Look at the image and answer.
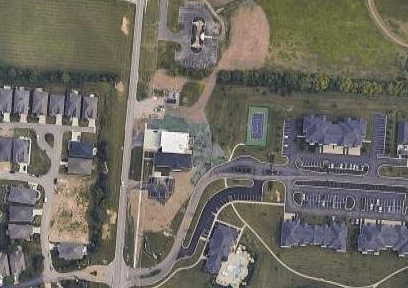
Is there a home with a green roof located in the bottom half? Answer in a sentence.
No, there's no home with a green roof to be seen in the bottom half.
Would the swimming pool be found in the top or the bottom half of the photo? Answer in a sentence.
The bottom half of the photo is where the swimming pool is.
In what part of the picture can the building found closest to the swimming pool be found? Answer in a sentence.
The building found closest to the swimming pool is located in the bottom region of the scene.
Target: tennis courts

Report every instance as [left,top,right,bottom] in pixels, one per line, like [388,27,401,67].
[247,105,268,145]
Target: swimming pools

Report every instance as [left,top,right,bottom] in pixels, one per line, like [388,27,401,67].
[219,246,252,288]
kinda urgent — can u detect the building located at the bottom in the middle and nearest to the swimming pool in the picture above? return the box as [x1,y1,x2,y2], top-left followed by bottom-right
[205,224,240,272]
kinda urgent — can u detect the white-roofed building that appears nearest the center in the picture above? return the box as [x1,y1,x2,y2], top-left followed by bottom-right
[160,131,189,153]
